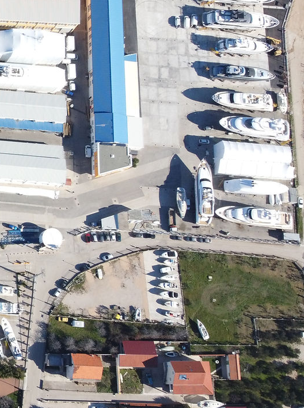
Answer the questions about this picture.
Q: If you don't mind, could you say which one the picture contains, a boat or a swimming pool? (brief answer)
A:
boat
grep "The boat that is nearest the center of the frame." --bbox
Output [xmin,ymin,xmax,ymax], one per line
[172,187,206,217]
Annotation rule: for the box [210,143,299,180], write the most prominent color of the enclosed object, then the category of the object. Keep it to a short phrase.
white tent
